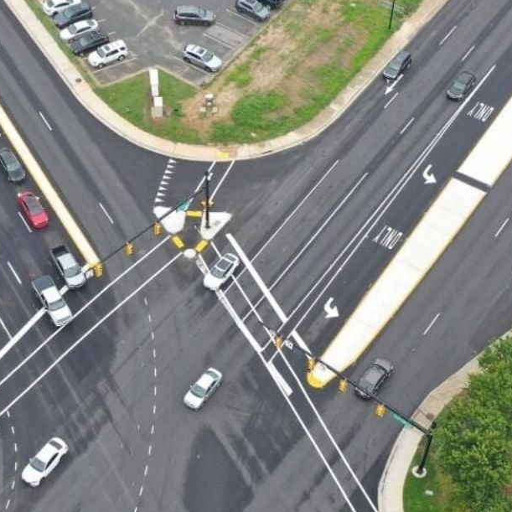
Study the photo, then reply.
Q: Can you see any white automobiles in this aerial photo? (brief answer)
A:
Yes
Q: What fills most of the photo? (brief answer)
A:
paved ground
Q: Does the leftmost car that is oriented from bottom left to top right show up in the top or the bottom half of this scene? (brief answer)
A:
bottom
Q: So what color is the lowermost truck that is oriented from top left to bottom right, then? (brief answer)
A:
white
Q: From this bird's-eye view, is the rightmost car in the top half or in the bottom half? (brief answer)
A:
top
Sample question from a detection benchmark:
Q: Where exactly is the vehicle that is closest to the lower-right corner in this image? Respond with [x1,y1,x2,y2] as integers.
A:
[353,356,393,403]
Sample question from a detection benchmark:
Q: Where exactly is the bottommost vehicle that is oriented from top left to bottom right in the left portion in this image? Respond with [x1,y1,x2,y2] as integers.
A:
[30,272,74,328]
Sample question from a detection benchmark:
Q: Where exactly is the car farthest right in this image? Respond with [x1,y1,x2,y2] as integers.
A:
[446,70,477,103]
